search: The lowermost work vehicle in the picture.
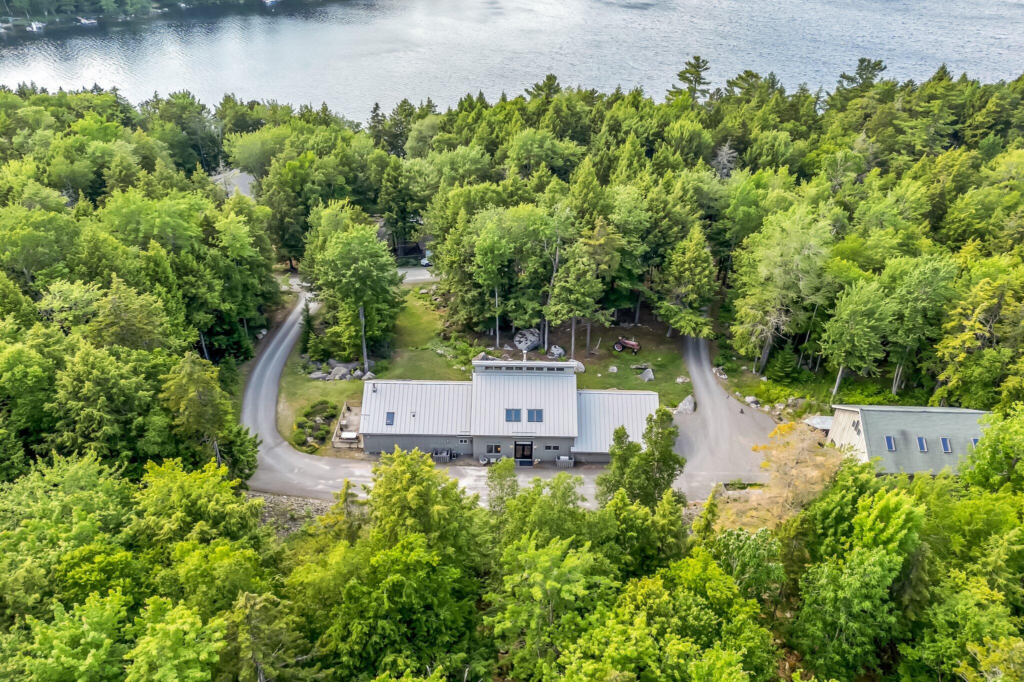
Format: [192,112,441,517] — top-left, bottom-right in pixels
[613,336,642,356]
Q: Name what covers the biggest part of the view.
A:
trees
